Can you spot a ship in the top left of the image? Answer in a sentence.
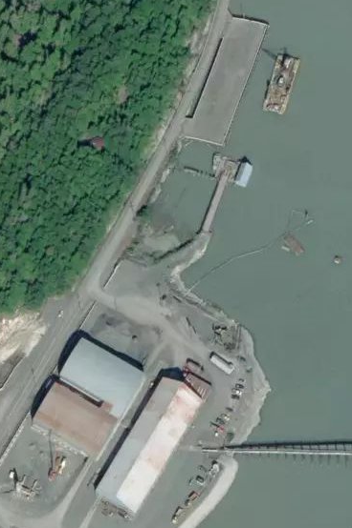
No, no ship appears in the top left of the image.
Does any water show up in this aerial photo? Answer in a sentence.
Yes, there is water in the image.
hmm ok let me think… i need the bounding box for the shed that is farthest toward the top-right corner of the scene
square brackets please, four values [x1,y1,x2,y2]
[234,162,253,189]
